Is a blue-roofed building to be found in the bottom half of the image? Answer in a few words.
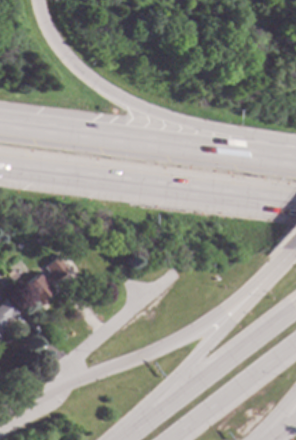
No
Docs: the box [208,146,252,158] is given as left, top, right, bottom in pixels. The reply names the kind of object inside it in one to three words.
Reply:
vehicle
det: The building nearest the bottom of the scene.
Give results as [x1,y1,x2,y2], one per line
[0,298,21,329]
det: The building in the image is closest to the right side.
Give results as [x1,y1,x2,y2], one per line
[49,250,78,276]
